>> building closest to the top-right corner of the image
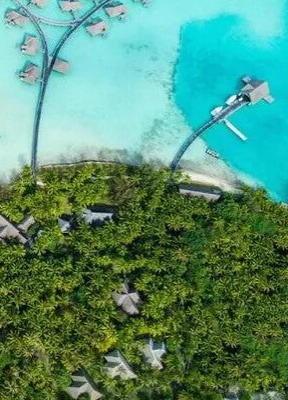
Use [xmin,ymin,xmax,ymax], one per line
[238,75,269,103]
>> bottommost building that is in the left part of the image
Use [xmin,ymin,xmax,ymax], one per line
[67,372,97,400]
